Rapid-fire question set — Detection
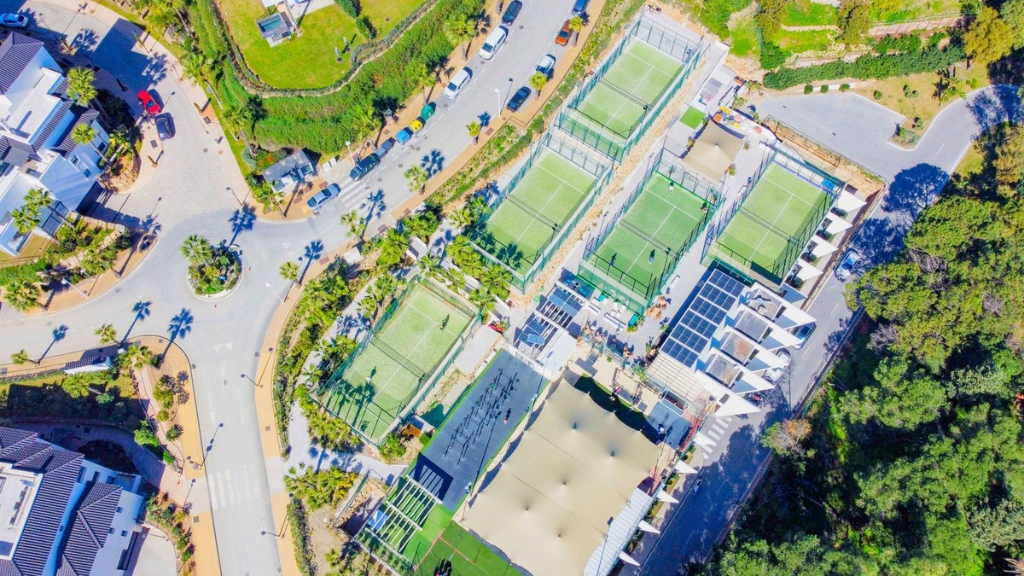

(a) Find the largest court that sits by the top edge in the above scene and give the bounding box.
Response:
[563,18,700,163]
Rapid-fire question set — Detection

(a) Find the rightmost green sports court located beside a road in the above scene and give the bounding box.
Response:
[701,144,851,298]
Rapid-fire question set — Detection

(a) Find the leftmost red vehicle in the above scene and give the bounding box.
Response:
[137,91,164,113]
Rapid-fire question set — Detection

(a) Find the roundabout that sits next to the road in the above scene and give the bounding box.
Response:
[185,247,243,299]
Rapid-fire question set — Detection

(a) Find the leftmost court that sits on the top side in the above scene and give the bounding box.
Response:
[462,131,611,294]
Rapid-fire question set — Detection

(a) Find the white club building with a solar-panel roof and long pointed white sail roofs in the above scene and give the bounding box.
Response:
[656,268,815,418]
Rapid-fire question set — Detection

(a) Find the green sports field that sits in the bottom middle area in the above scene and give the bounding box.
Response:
[415,519,531,576]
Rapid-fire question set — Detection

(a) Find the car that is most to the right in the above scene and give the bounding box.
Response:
[835,250,863,282]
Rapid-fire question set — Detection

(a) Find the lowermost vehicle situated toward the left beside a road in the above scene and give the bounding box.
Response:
[307,185,342,209]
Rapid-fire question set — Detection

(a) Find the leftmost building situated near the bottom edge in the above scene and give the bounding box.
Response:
[0,426,153,576]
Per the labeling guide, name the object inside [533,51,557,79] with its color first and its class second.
white car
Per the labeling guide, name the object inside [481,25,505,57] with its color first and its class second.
white vehicle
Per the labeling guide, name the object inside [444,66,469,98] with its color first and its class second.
white vehicle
